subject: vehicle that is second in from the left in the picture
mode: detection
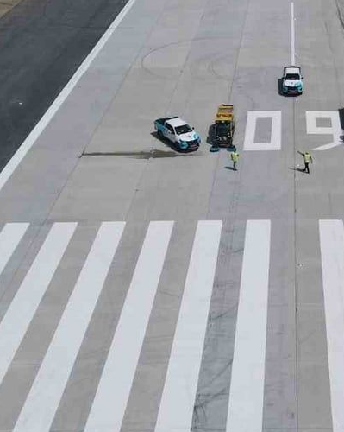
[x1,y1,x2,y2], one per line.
[209,105,234,151]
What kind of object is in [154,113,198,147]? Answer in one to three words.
truck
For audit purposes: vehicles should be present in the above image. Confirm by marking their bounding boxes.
[154,113,198,147]
[280,66,303,92]
[209,105,234,151]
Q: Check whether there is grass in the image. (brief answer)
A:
No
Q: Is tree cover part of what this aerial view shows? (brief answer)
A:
No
